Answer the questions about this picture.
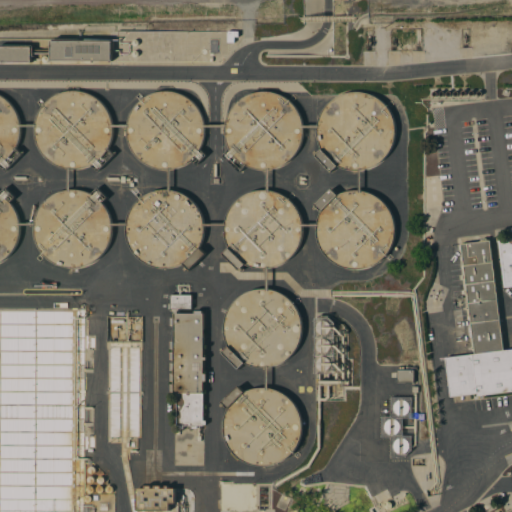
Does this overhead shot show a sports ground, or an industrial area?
industrial area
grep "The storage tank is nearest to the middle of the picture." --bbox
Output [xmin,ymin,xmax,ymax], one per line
[222,190,302,269]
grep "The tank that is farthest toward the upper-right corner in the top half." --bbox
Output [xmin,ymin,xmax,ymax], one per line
[316,92,396,171]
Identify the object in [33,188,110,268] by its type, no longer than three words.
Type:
storage tank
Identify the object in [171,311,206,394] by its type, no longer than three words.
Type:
building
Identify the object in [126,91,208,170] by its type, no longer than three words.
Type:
storage tank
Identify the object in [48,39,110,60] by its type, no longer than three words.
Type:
shed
